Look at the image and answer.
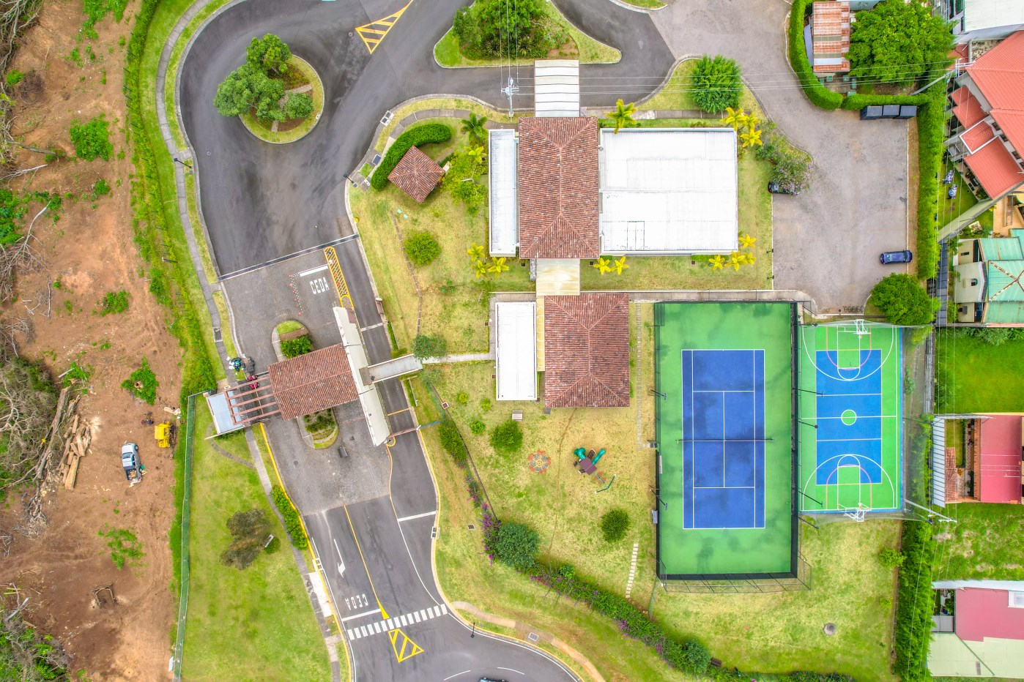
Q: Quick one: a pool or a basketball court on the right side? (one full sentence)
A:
The feature located on the right side is a basketball court.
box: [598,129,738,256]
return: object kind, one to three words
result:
building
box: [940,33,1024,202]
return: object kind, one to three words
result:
house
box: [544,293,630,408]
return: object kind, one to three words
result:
house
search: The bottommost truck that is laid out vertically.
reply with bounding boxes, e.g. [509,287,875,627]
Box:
[116,443,140,487]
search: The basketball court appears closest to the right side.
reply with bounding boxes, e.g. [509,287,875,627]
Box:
[799,325,903,515]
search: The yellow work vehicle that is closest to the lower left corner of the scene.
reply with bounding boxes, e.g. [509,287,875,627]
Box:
[148,425,178,447]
